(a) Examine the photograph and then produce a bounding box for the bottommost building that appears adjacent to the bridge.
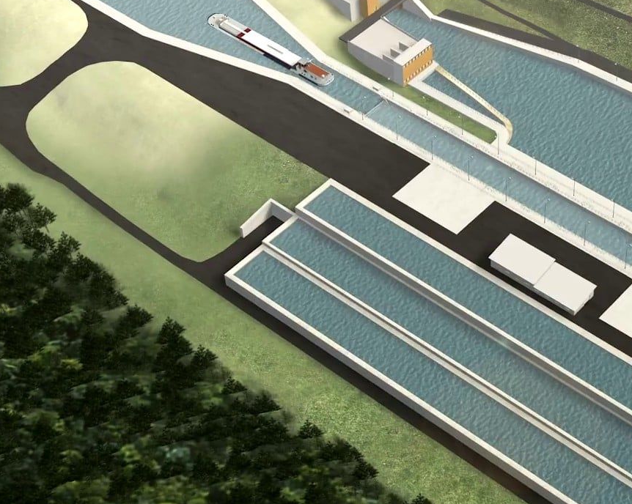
[352,18,434,87]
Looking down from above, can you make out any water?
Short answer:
Yes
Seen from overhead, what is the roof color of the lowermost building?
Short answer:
white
